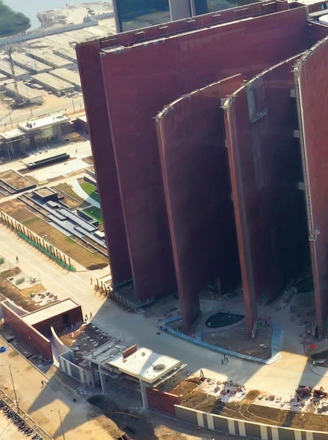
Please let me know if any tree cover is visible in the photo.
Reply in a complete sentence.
No, the picture contains no tree cover.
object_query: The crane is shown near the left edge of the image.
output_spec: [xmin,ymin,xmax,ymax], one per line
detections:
[0,15,28,107]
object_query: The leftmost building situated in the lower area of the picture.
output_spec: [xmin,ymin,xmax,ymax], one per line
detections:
[0,298,84,360]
